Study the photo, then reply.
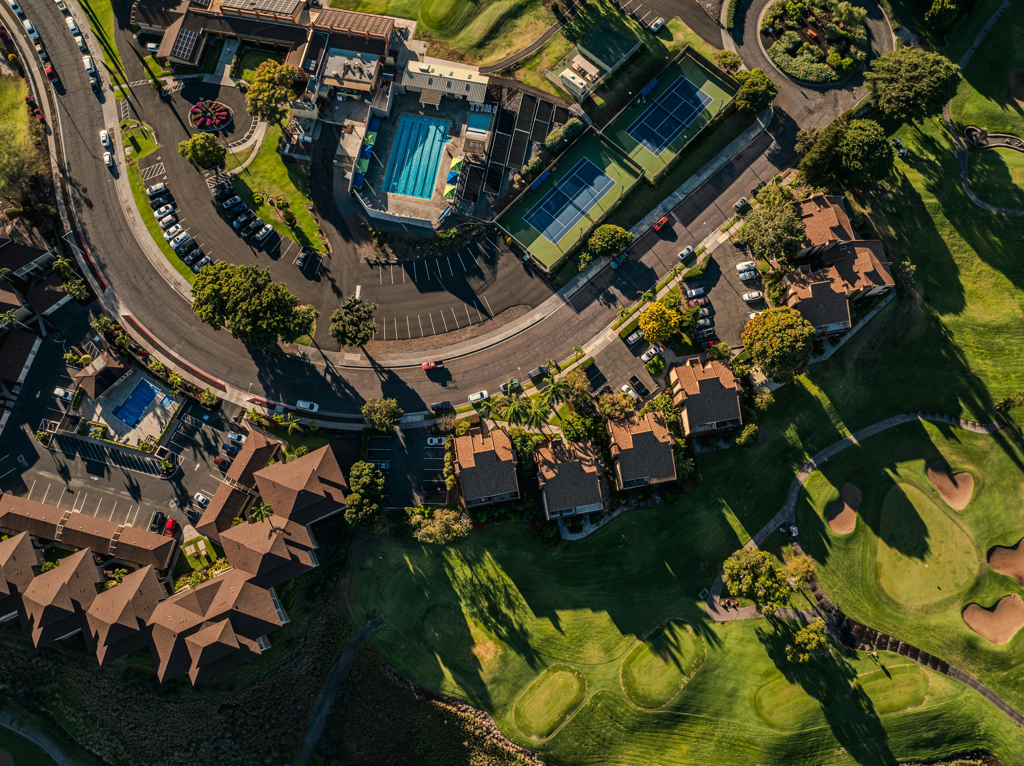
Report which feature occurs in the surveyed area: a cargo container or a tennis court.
tennis court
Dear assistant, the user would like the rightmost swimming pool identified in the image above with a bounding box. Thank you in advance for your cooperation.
[464,111,492,139]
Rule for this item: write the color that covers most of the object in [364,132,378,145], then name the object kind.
green umbrella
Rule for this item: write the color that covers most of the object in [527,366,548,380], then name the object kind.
gray car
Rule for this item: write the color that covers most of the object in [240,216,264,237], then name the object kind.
black truck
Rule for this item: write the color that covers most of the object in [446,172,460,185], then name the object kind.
blue umbrella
